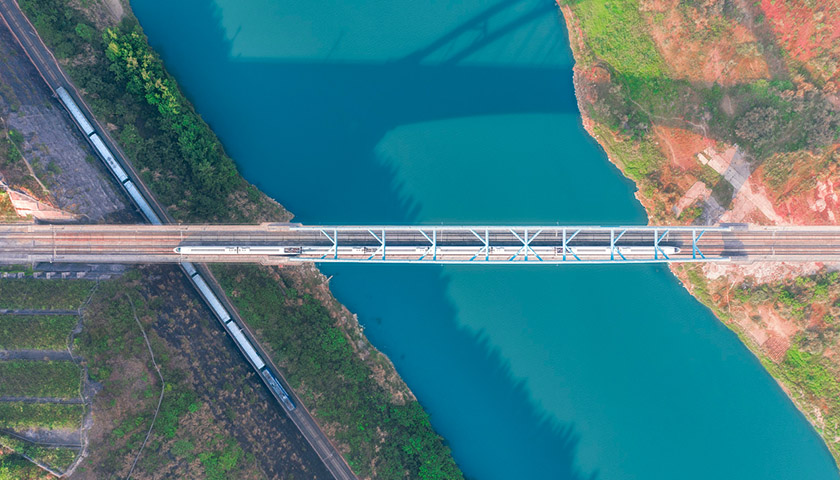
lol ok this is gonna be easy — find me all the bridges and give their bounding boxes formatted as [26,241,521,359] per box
[0,222,840,265]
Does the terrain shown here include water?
Yes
